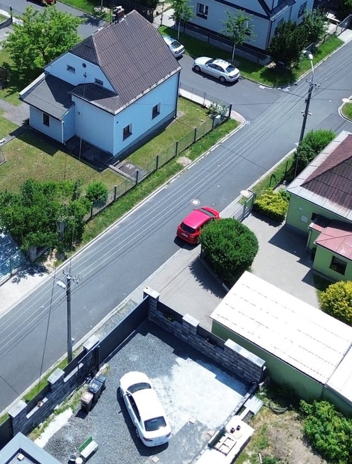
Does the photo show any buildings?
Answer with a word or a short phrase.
Yes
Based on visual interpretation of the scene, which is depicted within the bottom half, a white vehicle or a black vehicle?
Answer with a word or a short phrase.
white vehicle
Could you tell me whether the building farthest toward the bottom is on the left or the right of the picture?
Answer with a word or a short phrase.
left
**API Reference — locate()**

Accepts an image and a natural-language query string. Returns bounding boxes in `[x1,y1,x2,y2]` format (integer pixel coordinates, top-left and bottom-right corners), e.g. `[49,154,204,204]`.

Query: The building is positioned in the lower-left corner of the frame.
[0,434,59,464]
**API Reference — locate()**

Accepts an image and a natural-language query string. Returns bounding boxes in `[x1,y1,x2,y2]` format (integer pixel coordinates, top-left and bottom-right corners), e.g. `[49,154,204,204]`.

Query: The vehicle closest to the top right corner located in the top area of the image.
[191,59,243,86]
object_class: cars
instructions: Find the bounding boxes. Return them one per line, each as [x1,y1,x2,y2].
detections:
[117,375,176,450]
[174,205,223,247]
[191,59,243,86]
[34,0,59,7]
[162,31,191,56]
